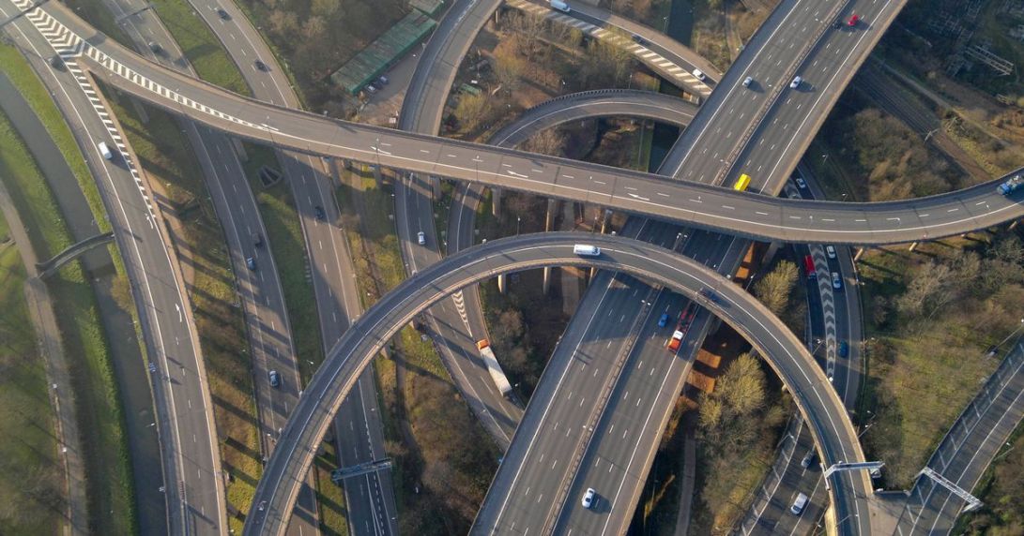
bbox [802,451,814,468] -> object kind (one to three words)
vehicle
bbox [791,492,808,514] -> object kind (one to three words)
vehicle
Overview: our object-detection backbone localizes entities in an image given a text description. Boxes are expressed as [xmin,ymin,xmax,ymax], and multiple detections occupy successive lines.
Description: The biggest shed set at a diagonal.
[330,10,436,97]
